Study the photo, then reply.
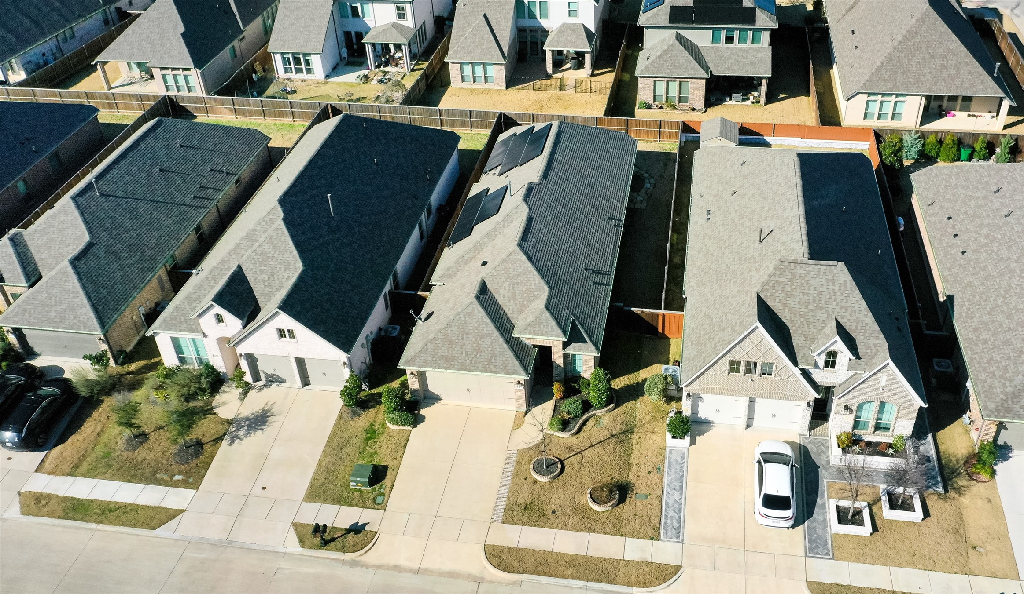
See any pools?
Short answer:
No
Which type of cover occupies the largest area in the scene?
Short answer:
buildings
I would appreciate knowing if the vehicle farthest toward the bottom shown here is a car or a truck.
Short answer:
car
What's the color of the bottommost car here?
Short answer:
white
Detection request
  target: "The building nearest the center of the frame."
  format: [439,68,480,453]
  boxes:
[396,120,639,414]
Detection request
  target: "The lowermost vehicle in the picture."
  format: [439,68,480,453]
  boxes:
[750,440,800,532]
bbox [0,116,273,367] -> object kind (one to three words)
house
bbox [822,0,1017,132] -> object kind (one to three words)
house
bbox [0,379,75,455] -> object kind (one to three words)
car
